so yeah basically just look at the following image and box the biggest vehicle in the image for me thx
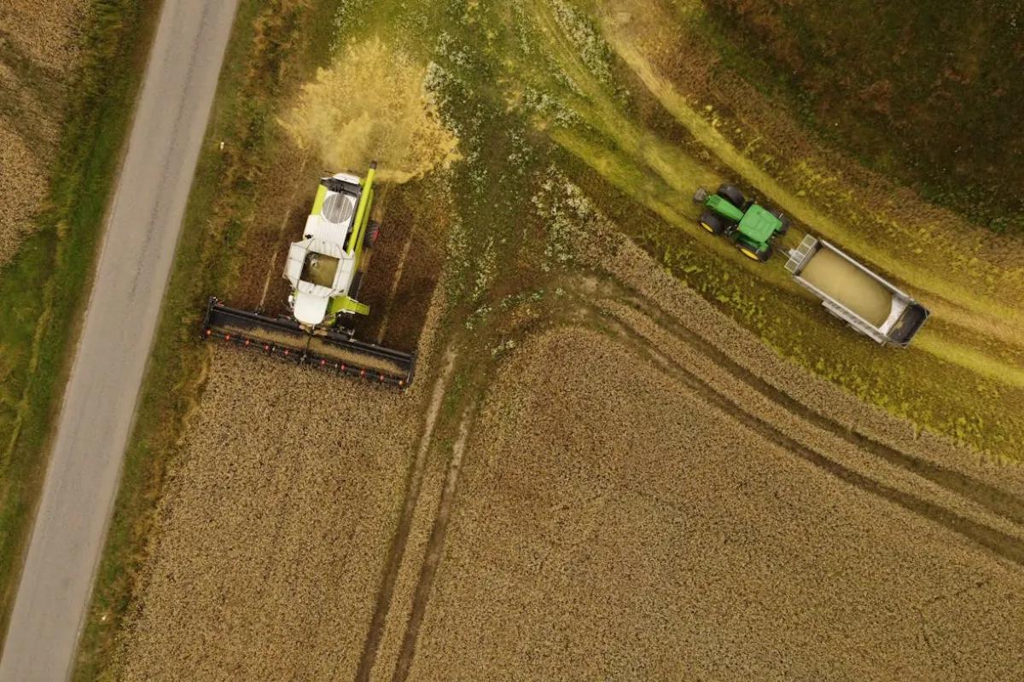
[200,160,420,398]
